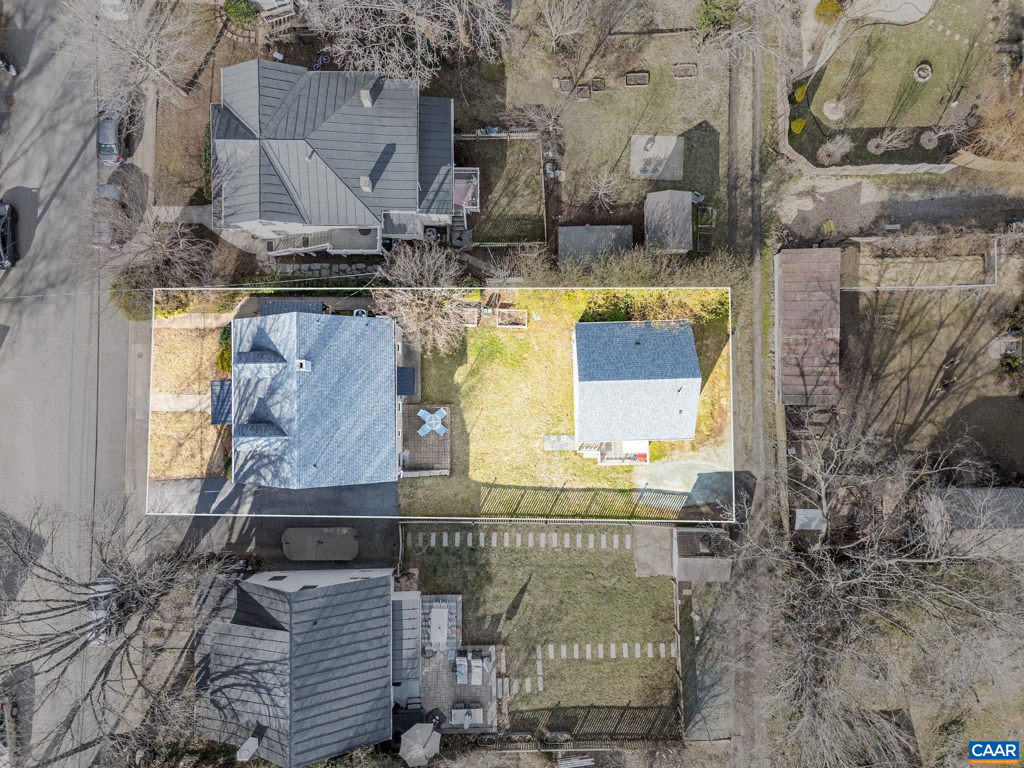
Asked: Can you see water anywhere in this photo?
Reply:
No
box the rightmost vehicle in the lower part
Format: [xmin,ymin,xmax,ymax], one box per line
[278,522,361,559]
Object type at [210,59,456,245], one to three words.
house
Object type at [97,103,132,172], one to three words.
car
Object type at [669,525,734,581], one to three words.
building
